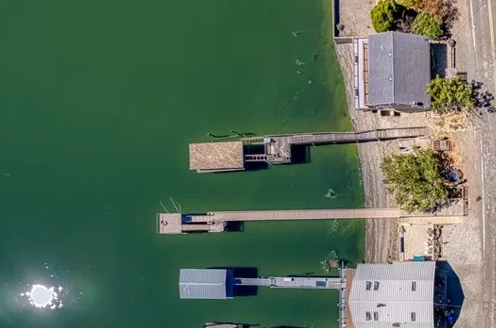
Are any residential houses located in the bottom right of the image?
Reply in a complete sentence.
Yes, a residential house appears in the bottom right of the image.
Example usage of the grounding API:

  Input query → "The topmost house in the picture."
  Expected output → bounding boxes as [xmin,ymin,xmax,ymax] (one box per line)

[354,31,430,113]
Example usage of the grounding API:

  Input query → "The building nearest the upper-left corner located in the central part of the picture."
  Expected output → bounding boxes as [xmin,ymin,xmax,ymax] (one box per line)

[189,142,250,174]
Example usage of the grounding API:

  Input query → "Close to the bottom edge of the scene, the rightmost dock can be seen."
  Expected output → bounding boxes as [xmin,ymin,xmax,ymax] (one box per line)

[235,265,350,328]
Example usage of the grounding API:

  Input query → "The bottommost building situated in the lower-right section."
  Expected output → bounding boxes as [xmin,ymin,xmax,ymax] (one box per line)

[347,261,441,328]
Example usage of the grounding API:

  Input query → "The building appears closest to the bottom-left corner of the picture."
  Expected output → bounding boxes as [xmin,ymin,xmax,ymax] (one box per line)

[179,269,235,299]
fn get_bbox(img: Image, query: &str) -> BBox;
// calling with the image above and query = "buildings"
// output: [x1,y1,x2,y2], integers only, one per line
[354,31,430,113]
[347,261,441,328]
[179,269,235,299]
[189,142,250,174]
